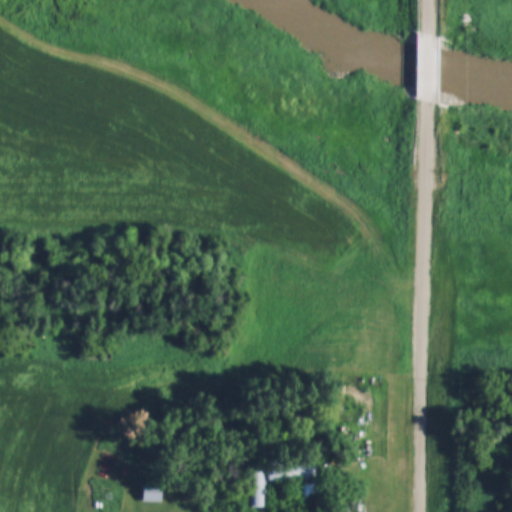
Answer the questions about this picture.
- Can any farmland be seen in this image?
Yes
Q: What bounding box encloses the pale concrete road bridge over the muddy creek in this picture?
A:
[418,32,441,105]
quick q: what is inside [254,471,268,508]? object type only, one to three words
house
